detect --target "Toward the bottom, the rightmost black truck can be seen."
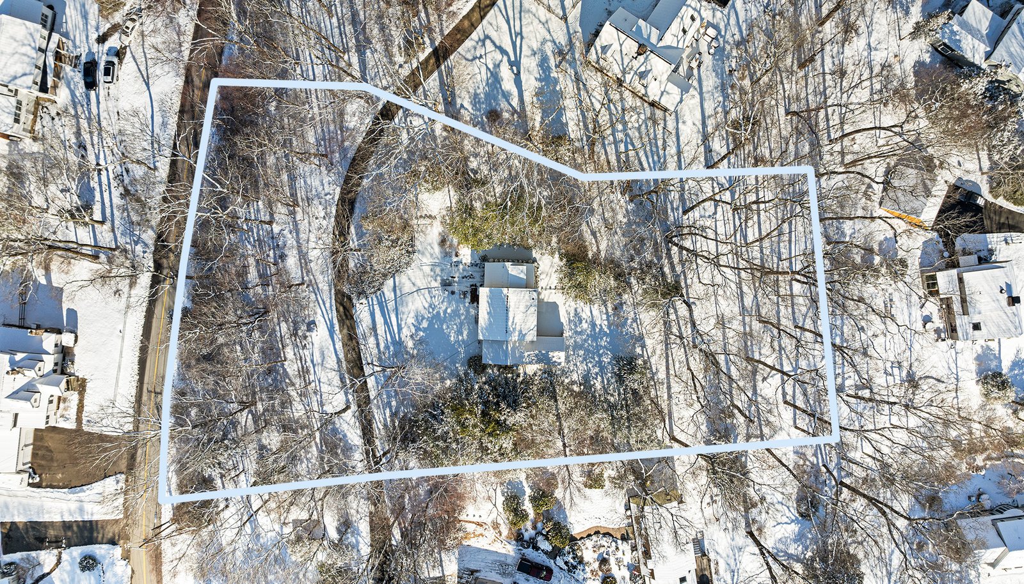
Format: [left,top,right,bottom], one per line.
[516,555,555,582]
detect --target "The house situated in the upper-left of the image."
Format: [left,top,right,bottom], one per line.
[0,0,83,141]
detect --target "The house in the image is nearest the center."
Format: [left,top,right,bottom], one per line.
[477,262,565,365]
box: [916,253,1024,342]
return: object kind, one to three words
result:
house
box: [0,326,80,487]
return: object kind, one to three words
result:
house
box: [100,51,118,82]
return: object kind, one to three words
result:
car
